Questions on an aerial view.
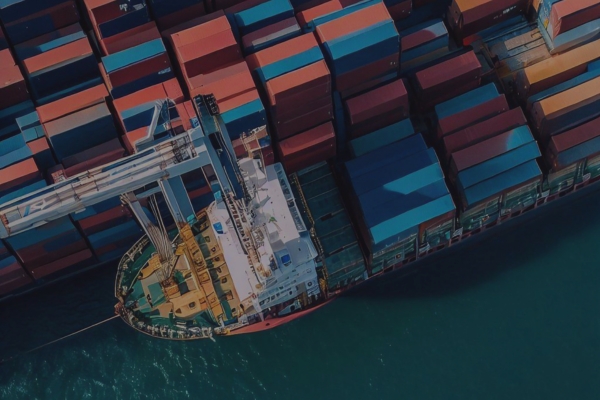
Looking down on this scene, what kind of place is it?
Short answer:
port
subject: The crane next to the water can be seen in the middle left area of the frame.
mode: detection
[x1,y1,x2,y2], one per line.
[0,94,255,286]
